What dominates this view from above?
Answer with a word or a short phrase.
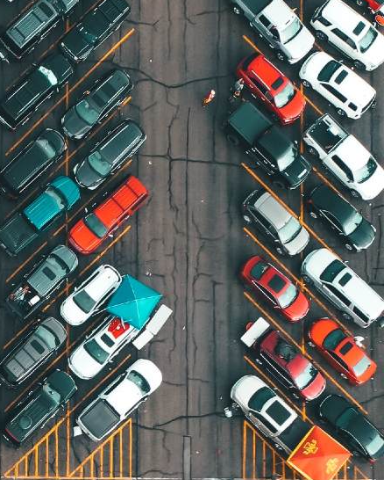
paved ground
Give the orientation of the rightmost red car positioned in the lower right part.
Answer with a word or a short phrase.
at an angle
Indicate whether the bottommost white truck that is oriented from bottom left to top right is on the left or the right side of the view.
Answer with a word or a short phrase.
left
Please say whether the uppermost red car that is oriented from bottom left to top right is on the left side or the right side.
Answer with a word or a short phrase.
left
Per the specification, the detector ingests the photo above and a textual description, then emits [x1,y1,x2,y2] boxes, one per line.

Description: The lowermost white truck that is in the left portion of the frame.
[74,360,160,444]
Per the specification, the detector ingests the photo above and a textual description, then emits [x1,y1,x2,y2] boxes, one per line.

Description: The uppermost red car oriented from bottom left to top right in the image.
[68,174,148,254]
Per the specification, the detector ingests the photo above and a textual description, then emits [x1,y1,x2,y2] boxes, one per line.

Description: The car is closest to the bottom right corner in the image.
[316,394,384,462]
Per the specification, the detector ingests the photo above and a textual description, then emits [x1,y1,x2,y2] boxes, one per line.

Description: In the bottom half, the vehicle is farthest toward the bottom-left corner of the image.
[3,373,72,443]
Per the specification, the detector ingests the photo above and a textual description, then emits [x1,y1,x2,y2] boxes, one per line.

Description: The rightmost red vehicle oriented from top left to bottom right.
[305,317,377,387]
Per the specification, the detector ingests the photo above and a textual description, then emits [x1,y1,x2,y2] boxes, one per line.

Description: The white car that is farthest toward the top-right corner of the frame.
[309,0,381,72]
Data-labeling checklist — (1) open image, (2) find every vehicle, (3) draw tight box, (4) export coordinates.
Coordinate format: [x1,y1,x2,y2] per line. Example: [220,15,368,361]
[0,0,76,63]
[240,190,306,256]
[229,377,310,457]
[304,183,375,254]
[56,0,137,68]
[301,113,384,203]
[316,394,384,462]
[0,320,65,390]
[248,323,328,404]
[3,373,72,443]
[309,0,381,72]
[68,315,139,379]
[68,174,148,254]
[1,243,80,324]
[74,360,160,444]
[223,98,309,187]
[0,176,79,260]
[234,52,305,125]
[305,317,377,387]
[304,253,384,325]
[70,115,147,191]
[58,263,123,328]
[301,52,377,121]
[237,255,308,324]
[0,130,65,200]
[227,0,313,63]
[0,54,72,132]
